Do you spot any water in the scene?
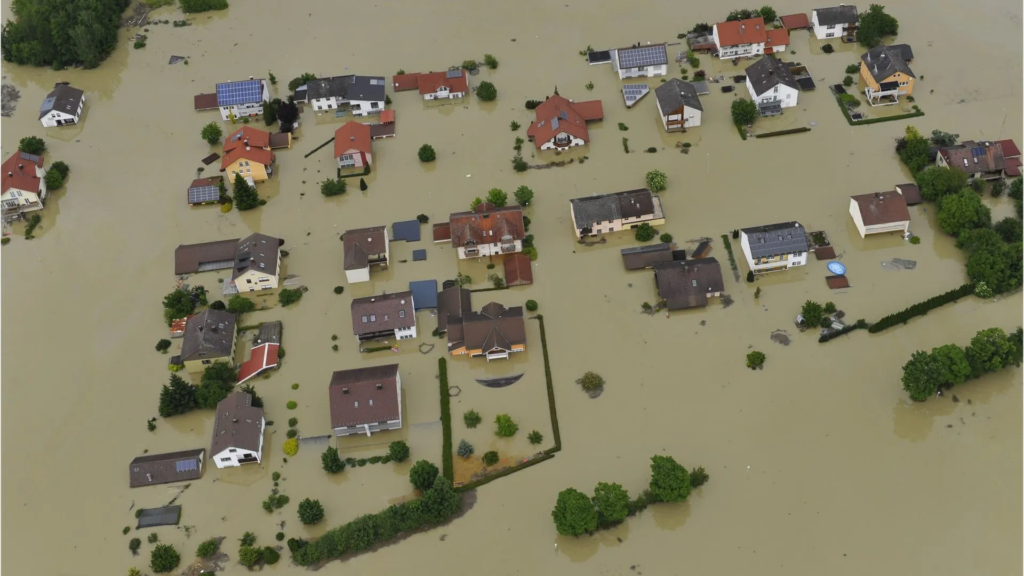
Yes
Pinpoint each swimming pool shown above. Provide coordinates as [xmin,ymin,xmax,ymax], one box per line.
[827,260,846,274]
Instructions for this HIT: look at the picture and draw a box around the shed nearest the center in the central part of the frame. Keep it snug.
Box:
[503,255,534,286]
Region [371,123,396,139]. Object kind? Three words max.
building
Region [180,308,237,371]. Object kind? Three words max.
house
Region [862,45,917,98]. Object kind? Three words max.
house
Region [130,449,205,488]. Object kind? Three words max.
building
